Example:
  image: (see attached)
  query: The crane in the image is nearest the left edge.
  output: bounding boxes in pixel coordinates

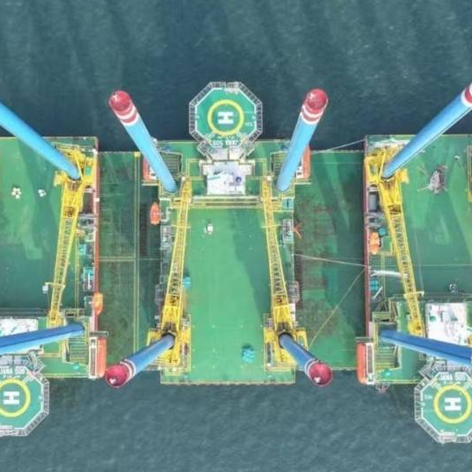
[47,141,103,326]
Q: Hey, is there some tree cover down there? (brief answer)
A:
No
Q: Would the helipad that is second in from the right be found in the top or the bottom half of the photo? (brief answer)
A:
top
